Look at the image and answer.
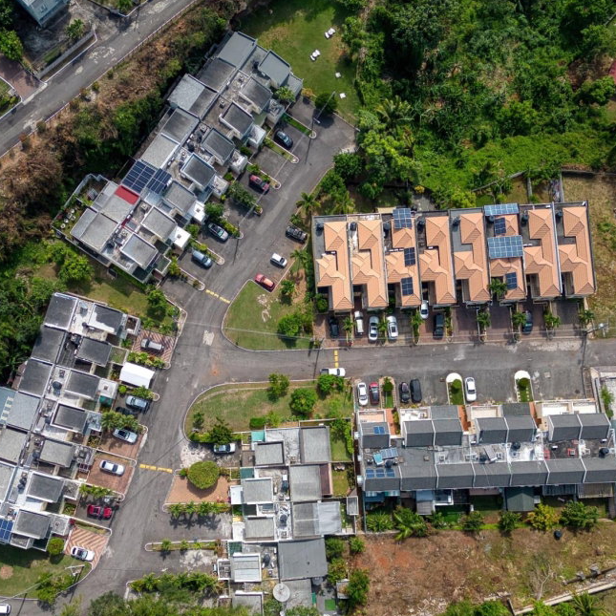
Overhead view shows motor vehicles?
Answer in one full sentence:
Yes, looking at the shot, I can spot a motor vehicle.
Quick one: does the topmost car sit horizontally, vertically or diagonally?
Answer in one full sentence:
From this overhead view, the topmost car appears to run diagonally.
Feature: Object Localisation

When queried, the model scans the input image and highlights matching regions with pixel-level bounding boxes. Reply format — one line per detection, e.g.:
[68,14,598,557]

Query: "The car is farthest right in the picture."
[521,311,534,334]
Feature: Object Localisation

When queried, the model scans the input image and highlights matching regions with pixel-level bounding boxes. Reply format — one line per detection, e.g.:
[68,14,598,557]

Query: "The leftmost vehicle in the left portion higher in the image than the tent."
[141,337,165,353]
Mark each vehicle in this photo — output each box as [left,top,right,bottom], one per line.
[329,316,339,338]
[247,172,271,195]
[274,129,294,149]
[0,603,12,614]
[70,544,97,564]
[206,221,231,243]
[254,273,277,291]
[269,251,289,269]
[369,317,378,340]
[521,311,534,334]
[98,457,128,478]
[214,443,237,455]
[399,382,410,403]
[283,224,310,244]
[114,403,137,419]
[321,366,346,378]
[433,314,444,339]
[86,502,114,520]
[410,379,422,402]
[387,316,397,339]
[191,249,215,269]
[141,337,165,353]
[419,300,430,319]
[353,311,365,334]
[124,395,149,411]
[370,383,381,404]
[358,383,369,404]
